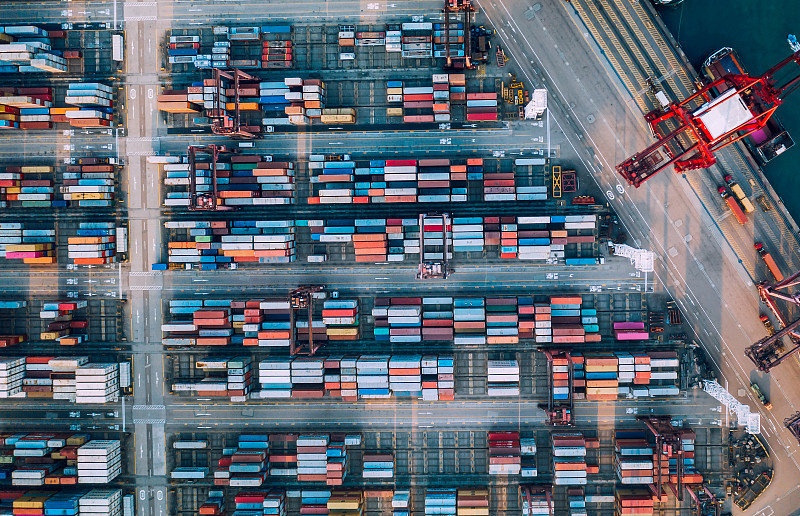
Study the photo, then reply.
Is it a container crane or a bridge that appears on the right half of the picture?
container crane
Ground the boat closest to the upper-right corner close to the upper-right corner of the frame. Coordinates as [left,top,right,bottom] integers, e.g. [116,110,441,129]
[785,31,799,53]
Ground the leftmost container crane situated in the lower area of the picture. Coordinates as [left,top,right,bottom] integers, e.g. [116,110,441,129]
[288,281,329,356]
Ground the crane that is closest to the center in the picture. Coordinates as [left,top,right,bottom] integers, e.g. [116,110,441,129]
[417,208,452,278]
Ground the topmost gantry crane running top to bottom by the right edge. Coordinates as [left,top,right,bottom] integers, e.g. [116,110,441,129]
[745,252,800,378]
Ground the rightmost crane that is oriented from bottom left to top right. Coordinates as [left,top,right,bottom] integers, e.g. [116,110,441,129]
[617,46,800,194]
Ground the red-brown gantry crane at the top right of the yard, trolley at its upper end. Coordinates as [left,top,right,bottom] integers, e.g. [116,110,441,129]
[441,0,472,72]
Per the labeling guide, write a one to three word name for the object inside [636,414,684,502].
container crane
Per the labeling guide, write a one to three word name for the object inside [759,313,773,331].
vehicle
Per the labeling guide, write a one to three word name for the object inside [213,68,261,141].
container crane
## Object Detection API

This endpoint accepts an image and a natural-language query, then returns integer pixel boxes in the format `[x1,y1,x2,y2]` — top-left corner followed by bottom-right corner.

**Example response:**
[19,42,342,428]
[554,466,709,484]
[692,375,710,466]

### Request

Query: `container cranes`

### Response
[617,46,800,194]
[188,145,240,211]
[417,208,452,278]
[213,68,261,141]
[441,0,472,72]
[516,482,551,516]
[537,342,576,424]
[288,281,329,356]
[745,252,800,378]
[636,414,684,502]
